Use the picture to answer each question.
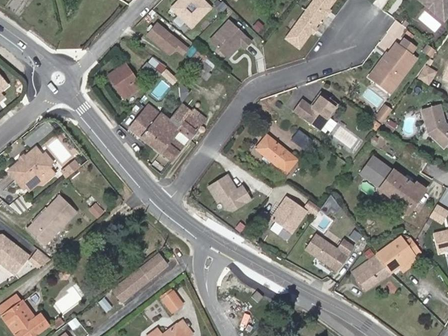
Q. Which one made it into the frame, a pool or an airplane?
pool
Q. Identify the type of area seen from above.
residential area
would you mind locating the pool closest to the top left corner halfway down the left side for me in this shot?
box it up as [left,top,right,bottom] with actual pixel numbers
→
[44,131,81,168]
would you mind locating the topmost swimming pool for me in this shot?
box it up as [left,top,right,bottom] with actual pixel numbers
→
[412,8,447,36]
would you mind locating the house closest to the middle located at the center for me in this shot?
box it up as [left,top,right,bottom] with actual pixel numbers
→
[208,174,252,212]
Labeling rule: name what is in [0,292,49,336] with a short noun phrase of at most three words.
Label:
house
